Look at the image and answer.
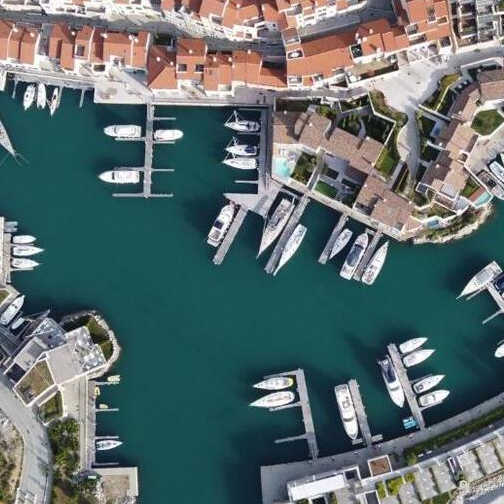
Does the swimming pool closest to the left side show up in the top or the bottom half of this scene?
top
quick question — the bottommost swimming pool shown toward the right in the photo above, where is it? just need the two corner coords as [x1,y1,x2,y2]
[424,215,443,231]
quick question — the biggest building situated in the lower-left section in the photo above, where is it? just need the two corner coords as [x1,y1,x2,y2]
[3,319,108,422]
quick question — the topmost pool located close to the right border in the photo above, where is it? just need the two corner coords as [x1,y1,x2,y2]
[470,187,494,208]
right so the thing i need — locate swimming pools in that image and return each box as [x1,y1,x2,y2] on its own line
[470,187,494,208]
[272,143,303,180]
[424,215,443,231]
